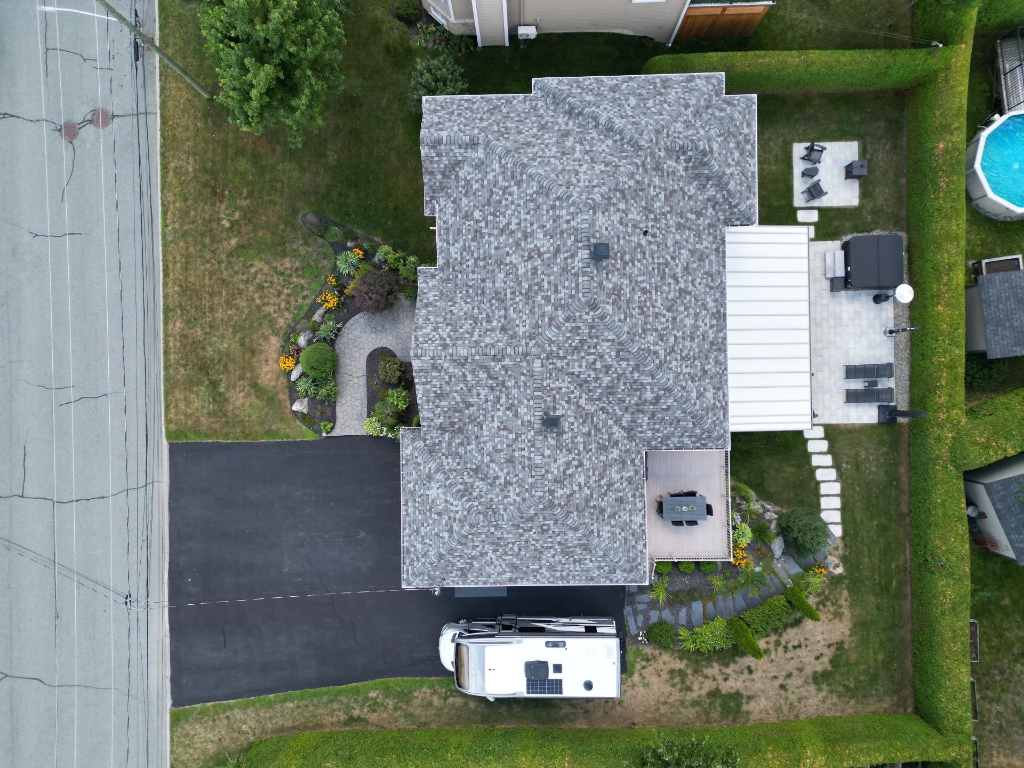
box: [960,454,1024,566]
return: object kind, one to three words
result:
shed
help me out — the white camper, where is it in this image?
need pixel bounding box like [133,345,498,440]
[439,610,621,702]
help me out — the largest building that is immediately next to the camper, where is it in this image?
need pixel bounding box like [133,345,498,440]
[401,74,758,601]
